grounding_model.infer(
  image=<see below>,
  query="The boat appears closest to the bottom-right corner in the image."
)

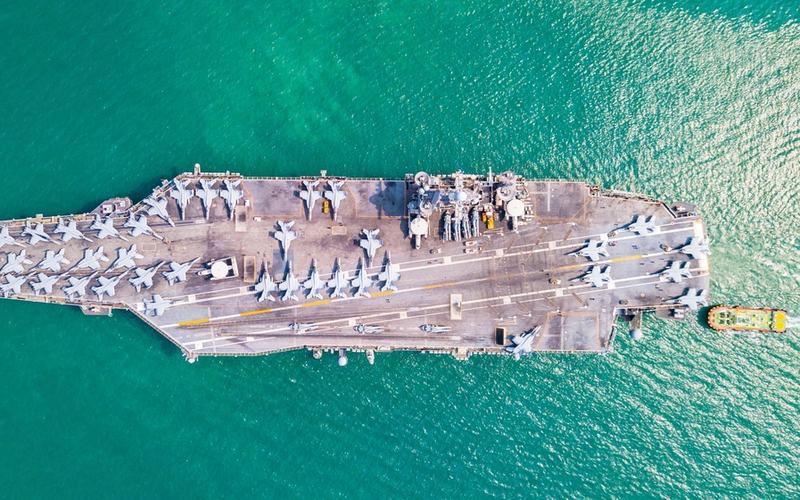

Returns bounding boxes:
[706,305,788,333]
